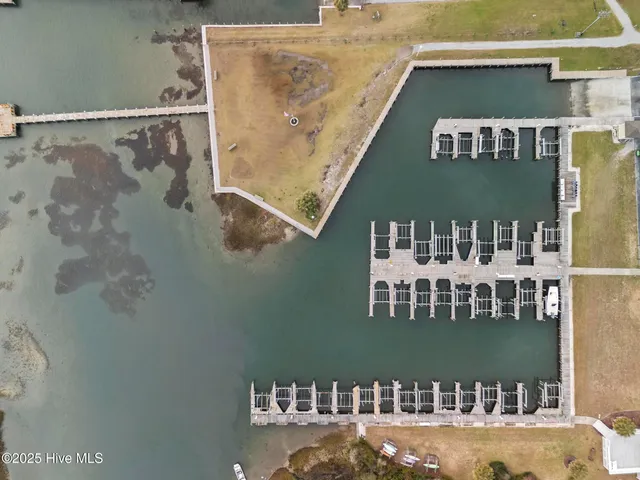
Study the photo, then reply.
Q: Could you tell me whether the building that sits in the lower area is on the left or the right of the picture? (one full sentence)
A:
The building that sits in the lower area is on the right side of the image.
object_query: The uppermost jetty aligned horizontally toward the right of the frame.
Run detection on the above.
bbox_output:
[428,116,634,161]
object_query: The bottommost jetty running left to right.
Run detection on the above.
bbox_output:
[250,378,559,426]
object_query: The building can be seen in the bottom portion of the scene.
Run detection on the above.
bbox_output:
[592,419,640,473]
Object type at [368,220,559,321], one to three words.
pier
